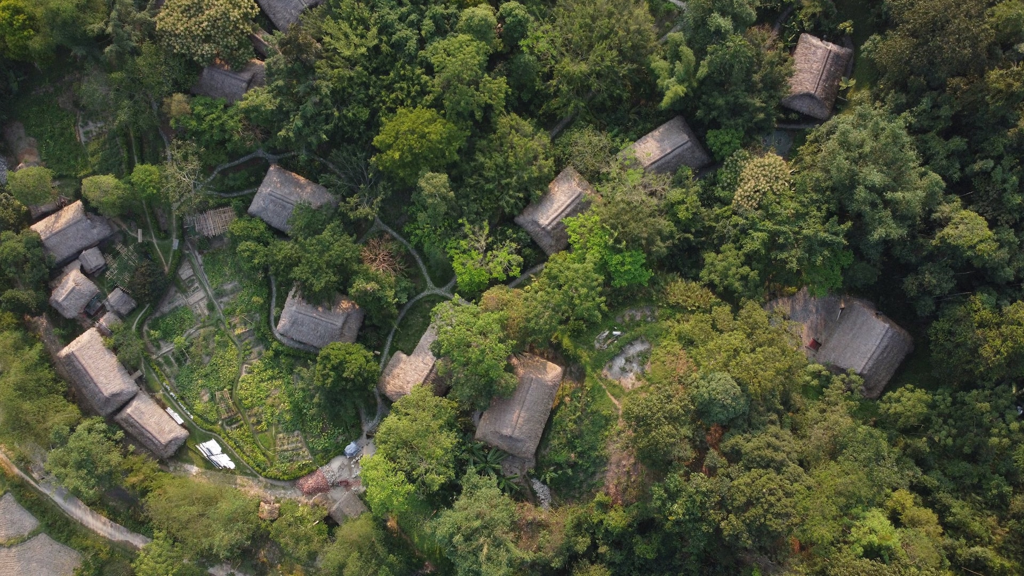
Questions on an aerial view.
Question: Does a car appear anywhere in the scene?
No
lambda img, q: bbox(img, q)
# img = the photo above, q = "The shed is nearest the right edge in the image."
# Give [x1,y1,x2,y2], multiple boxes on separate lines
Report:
[817,298,914,399]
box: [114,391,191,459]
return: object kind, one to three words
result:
shed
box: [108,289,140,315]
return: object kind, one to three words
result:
shed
